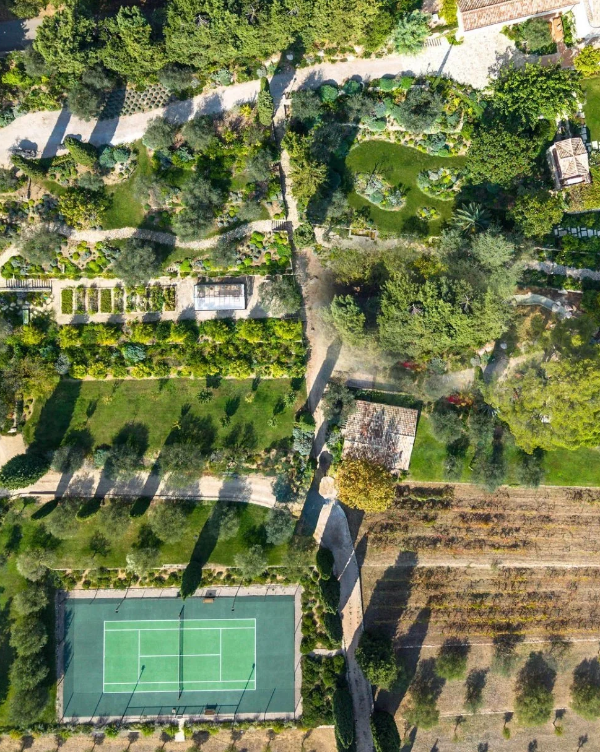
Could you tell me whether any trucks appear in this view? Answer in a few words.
No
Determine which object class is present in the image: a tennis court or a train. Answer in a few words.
tennis court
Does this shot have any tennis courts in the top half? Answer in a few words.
No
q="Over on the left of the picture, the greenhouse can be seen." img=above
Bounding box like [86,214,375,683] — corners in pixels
[194,283,248,311]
